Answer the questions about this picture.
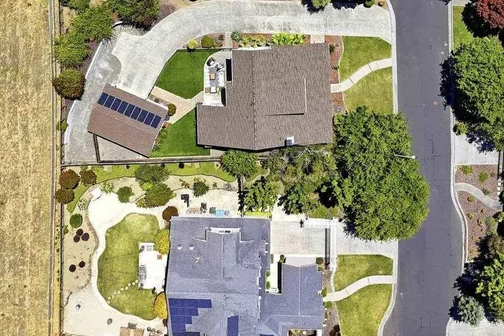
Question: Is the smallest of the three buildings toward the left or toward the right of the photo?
left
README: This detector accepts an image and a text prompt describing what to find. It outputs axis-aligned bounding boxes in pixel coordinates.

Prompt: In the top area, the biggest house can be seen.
[196,47,332,151]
